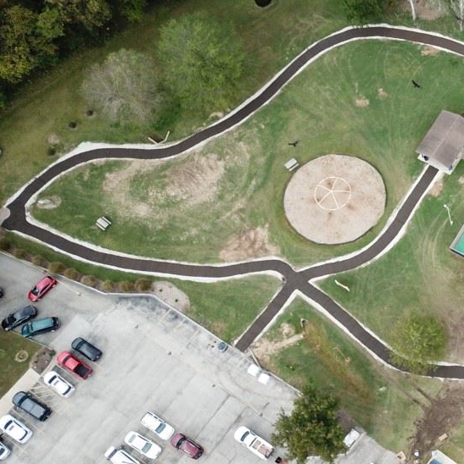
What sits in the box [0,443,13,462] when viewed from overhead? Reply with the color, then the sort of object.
white vehicle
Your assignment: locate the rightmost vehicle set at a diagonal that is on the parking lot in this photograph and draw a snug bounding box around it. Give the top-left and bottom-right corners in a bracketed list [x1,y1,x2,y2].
[233,428,274,461]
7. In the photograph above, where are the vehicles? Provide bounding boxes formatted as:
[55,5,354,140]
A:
[102,447,139,464]
[0,443,13,462]
[1,304,41,334]
[0,416,33,444]
[71,338,104,363]
[14,393,51,422]
[140,412,175,441]
[126,431,161,460]
[44,373,75,398]
[56,352,92,381]
[233,428,274,461]
[172,433,203,460]
[29,273,58,305]
[23,317,61,339]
